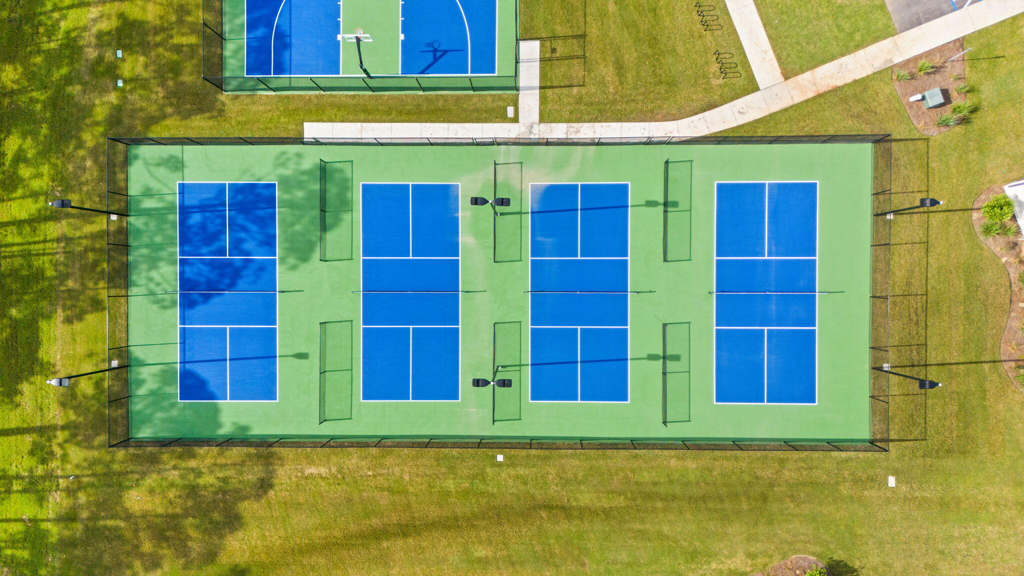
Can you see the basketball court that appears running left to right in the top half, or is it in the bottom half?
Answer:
top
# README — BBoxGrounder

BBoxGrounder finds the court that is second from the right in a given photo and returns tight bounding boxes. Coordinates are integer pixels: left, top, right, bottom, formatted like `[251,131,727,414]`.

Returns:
[529,182,630,403]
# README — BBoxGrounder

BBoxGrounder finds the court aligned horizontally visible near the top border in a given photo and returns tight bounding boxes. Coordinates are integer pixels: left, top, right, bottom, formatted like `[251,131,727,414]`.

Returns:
[222,0,521,95]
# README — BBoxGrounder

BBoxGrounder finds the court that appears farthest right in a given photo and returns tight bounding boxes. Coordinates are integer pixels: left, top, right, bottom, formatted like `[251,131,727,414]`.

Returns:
[714,181,819,405]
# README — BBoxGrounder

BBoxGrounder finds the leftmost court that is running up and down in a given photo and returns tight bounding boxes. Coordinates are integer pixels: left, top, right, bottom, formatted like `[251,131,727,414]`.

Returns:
[177,181,278,402]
